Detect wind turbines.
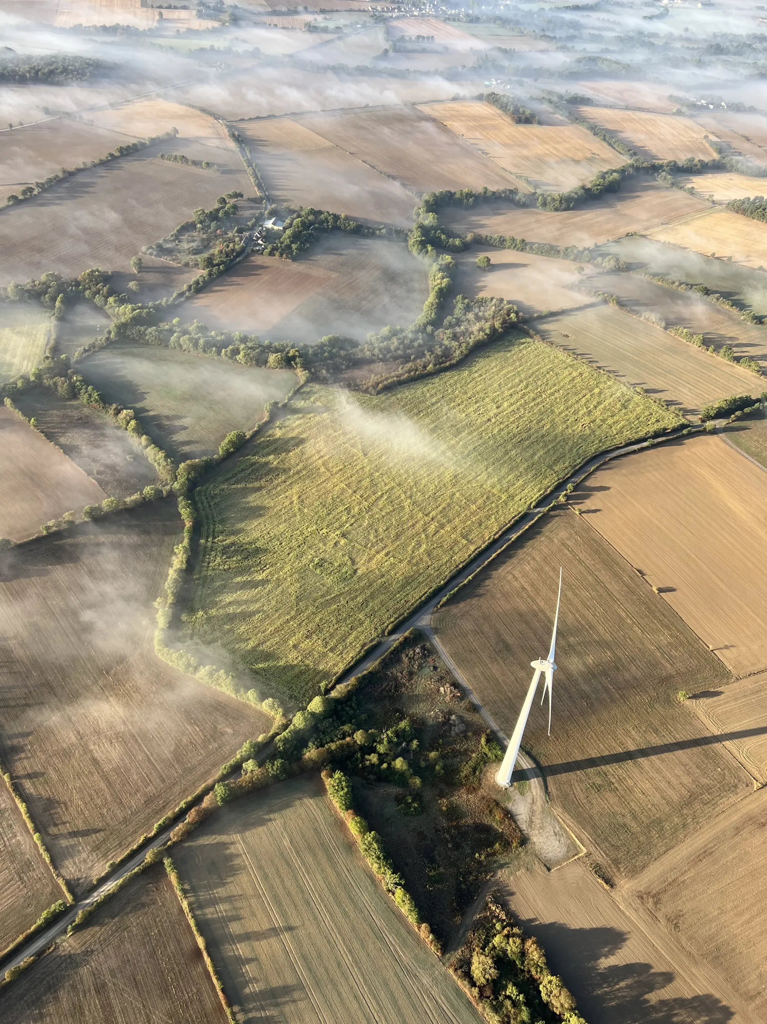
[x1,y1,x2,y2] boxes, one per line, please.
[493,566,562,787]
